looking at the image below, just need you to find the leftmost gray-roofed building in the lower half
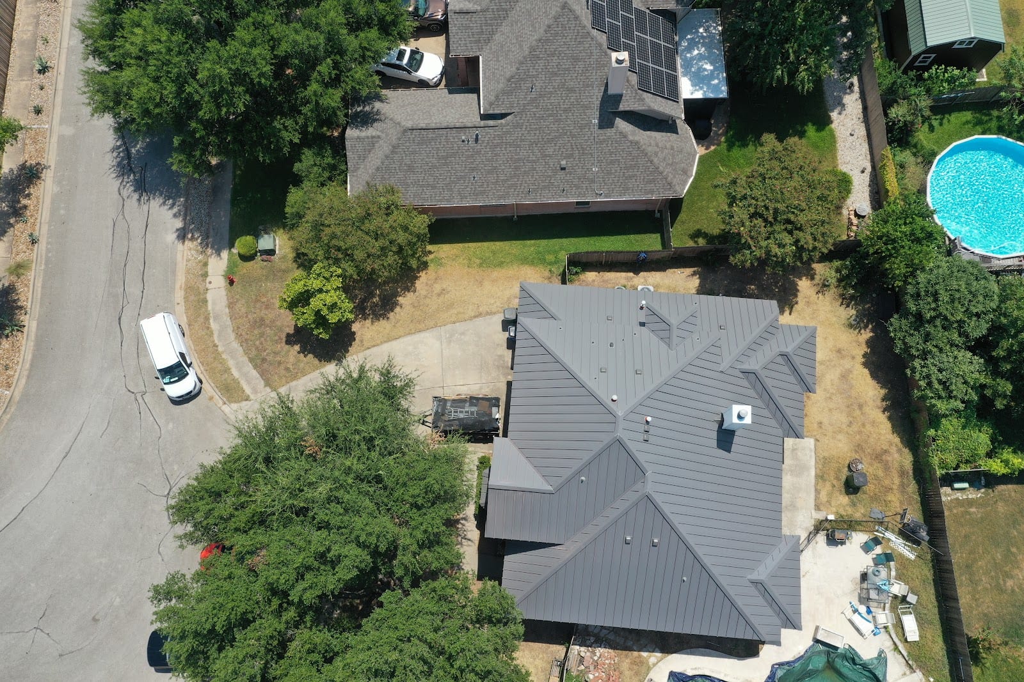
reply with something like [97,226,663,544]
[485,281,819,645]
